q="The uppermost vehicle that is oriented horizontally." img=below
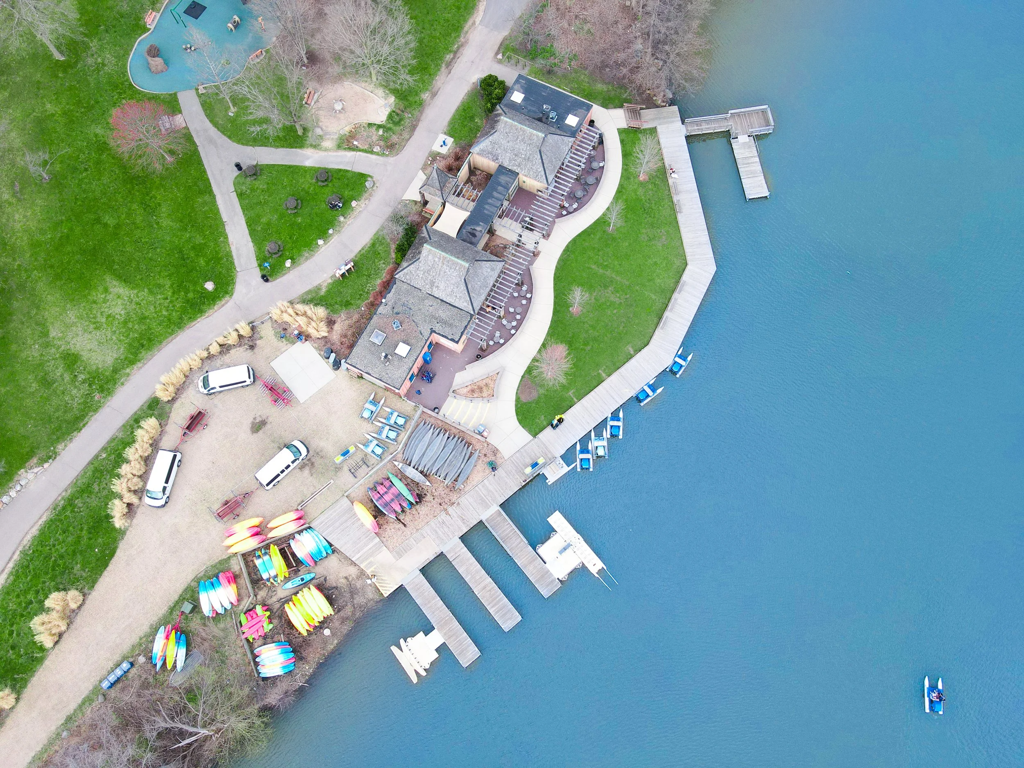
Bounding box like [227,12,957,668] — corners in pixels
[199,365,259,397]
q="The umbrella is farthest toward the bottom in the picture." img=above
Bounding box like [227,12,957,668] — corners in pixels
[484,456,498,470]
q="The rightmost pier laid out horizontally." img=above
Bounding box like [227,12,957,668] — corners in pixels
[680,105,777,140]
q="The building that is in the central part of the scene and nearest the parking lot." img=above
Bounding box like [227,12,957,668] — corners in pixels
[346,224,505,397]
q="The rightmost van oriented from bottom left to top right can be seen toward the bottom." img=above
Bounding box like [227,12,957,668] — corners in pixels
[252,440,314,494]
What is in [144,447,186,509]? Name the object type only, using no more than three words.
van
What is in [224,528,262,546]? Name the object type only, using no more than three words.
boat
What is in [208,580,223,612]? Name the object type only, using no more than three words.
boat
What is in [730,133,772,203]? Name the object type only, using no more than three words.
pier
